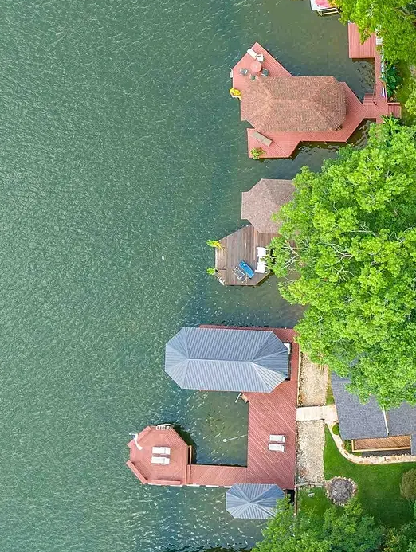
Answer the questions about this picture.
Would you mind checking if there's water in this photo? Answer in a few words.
Yes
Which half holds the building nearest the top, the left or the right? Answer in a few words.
right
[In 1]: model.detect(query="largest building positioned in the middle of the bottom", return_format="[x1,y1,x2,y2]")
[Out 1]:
[165,324,300,489]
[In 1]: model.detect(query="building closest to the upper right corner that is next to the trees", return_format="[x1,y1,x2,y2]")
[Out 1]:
[232,42,369,160]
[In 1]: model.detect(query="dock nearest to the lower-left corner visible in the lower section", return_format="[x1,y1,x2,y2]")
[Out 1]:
[123,425,250,487]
